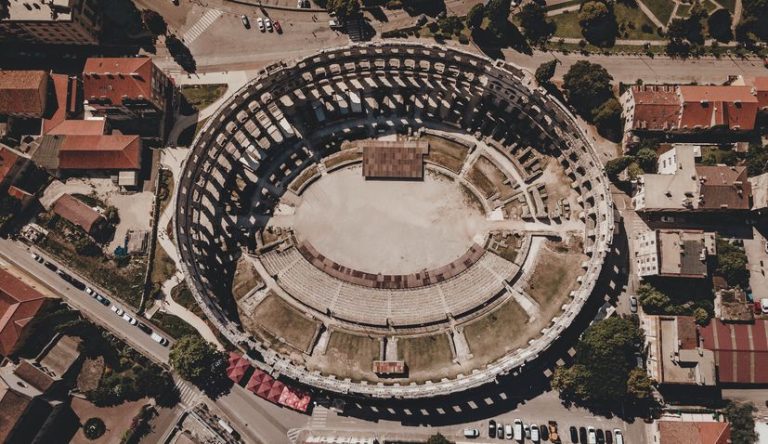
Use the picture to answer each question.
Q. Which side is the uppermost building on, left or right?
left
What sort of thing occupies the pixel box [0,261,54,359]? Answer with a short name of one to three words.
house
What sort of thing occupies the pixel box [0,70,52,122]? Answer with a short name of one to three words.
house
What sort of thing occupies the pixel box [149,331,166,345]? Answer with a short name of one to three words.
vehicle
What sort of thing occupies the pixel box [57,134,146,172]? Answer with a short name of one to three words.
building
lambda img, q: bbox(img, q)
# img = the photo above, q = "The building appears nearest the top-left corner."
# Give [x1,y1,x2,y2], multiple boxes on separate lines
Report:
[0,0,95,41]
